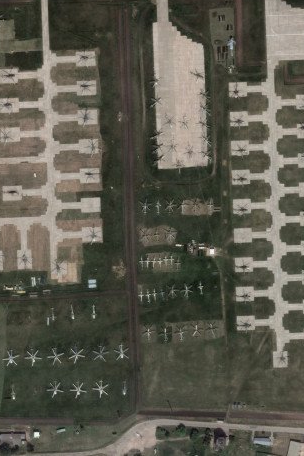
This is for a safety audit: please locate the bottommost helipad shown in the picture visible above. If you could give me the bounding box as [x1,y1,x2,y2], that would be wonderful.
[273,350,288,367]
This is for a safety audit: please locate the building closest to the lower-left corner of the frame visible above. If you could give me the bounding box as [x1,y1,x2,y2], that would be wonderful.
[0,433,26,447]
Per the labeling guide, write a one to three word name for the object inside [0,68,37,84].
helipad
